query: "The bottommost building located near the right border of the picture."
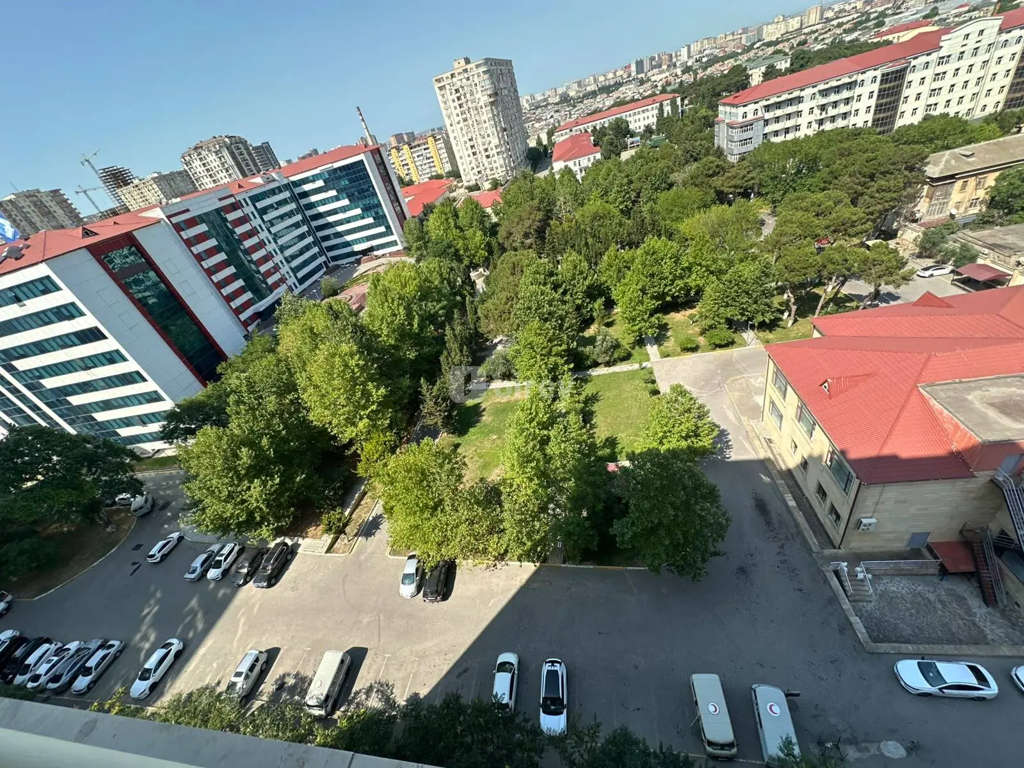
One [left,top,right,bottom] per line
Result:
[759,284,1024,549]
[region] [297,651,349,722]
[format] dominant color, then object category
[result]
white van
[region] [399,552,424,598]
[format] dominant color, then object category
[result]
white car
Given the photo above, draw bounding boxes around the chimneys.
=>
[356,106,374,144]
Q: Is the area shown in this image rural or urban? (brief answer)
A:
urban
